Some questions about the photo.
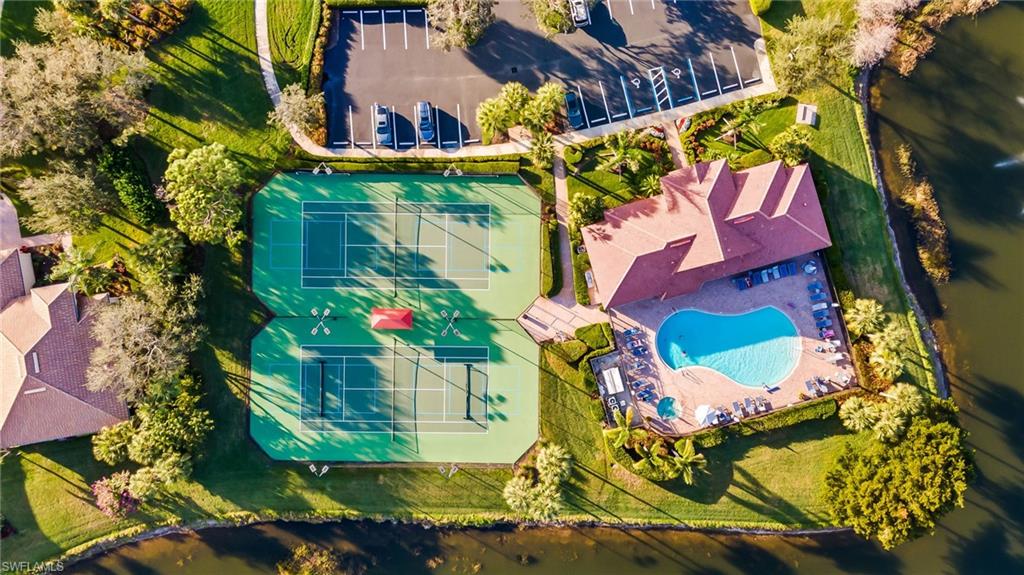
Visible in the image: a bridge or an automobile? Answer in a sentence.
I can see an automobile in this picture.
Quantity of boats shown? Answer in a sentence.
I count no boats.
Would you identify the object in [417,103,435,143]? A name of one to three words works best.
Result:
car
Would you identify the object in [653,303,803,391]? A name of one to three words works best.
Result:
swimming pool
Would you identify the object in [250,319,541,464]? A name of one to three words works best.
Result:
tennis court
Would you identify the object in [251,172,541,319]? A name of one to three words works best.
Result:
tennis court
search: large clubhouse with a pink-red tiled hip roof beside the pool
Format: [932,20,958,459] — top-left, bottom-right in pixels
[582,158,831,308]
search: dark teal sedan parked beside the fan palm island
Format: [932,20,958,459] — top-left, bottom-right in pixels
[563,89,584,129]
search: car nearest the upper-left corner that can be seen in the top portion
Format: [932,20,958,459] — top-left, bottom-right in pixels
[374,105,391,145]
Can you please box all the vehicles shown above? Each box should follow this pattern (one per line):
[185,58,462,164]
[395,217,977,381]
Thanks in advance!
[374,105,391,145]
[417,103,435,143]
[563,89,584,129]
[570,0,589,27]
